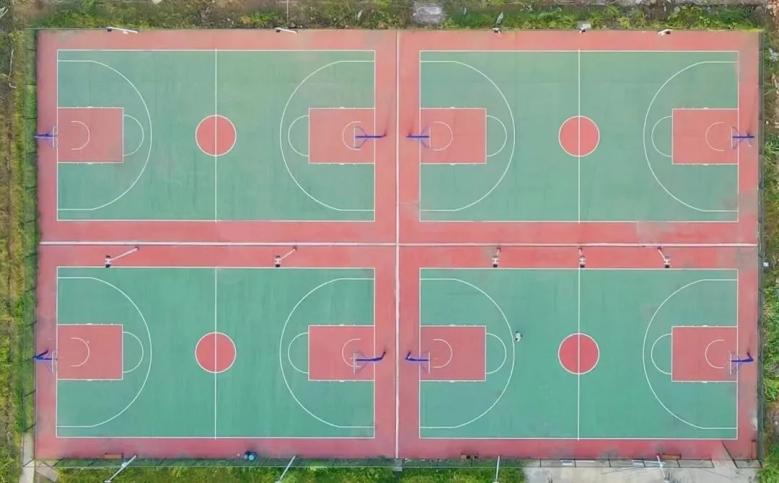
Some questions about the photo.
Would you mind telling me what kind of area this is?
sports ground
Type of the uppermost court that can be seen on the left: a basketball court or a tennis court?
basketball court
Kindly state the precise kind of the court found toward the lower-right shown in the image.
basketball court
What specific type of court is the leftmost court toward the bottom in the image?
basketball court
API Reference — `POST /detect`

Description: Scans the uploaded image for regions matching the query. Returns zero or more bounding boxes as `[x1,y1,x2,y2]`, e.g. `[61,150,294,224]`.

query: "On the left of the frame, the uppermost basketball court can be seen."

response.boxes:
[37,30,396,243]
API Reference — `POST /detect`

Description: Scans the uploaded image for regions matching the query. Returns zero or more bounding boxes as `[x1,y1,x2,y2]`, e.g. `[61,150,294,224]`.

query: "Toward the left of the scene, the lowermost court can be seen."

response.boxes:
[37,245,396,459]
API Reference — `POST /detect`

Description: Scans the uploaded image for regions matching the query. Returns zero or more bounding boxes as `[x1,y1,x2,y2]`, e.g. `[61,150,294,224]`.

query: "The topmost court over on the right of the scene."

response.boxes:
[399,30,758,244]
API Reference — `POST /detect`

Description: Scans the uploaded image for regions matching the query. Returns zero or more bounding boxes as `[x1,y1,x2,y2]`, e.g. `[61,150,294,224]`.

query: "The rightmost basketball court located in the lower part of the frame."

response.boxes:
[399,246,758,459]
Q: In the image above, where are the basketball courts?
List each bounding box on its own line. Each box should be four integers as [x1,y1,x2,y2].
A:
[399,246,758,459]
[37,30,396,243]
[399,30,758,244]
[37,245,396,459]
